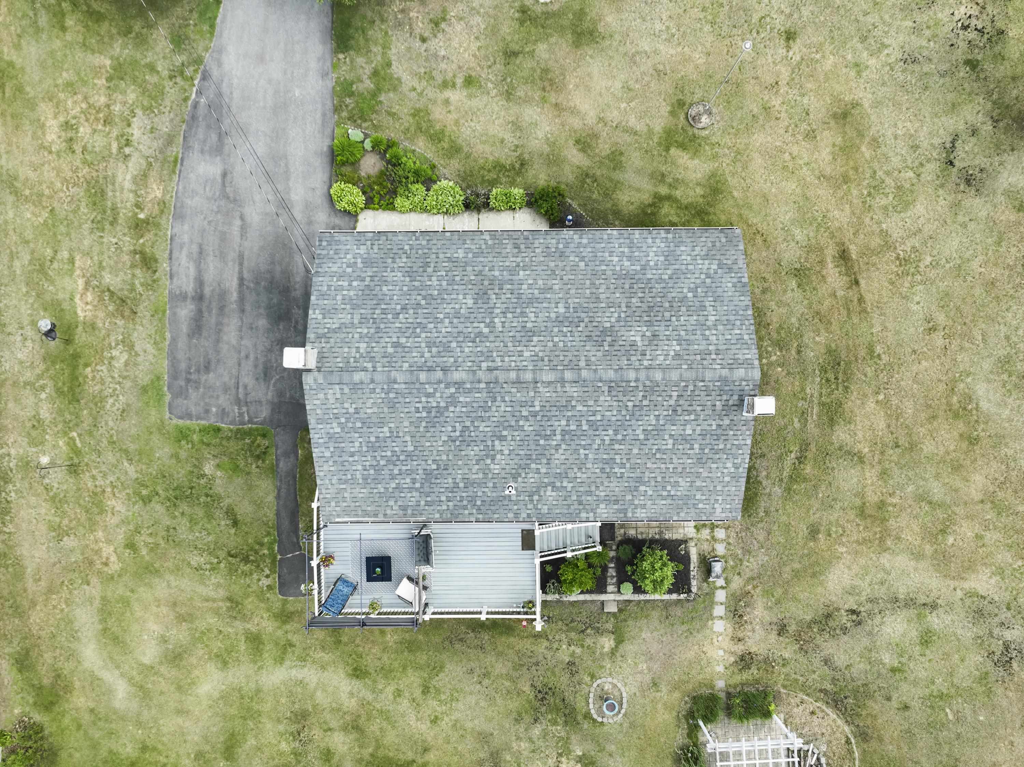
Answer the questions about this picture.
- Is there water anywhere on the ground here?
No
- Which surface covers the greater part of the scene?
grass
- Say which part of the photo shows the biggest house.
center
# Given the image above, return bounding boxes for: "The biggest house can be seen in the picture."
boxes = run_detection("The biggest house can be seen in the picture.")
[283,227,775,524]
